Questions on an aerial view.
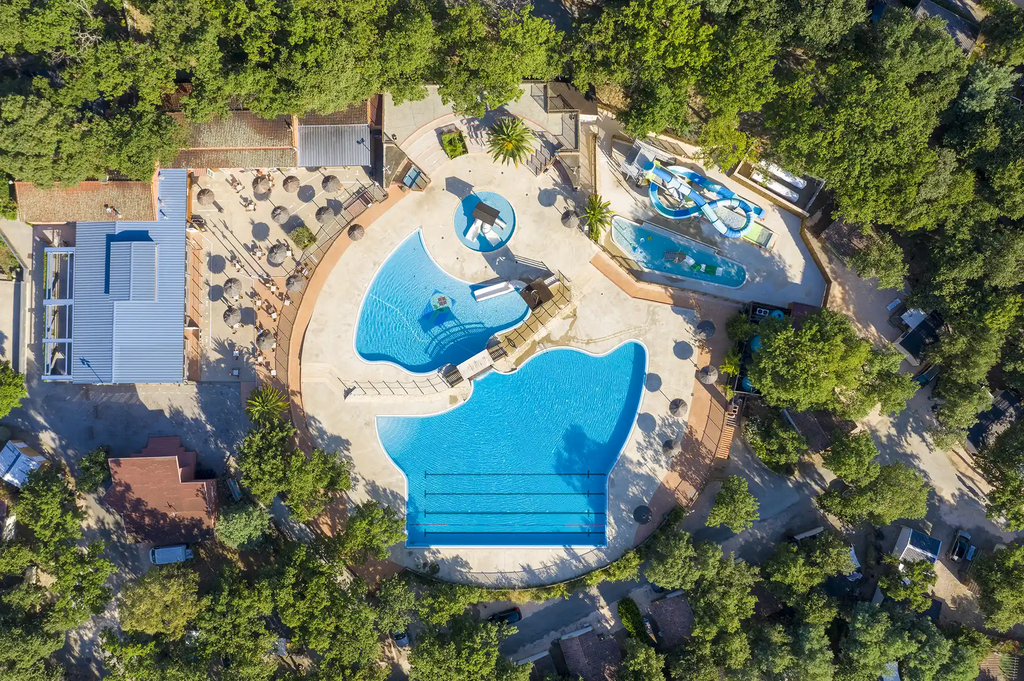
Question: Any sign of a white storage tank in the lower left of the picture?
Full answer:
No, no white storage tank is visible in the lower left of the picture.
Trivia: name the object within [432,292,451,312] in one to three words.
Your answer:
fountain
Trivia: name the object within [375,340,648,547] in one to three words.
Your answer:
swimming pool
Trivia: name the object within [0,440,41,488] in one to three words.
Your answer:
shed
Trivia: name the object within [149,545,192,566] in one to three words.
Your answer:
vehicle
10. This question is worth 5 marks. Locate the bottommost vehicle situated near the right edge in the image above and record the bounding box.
[946,528,973,565]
